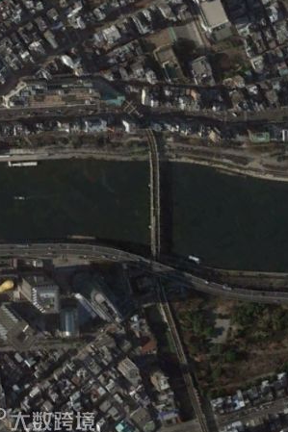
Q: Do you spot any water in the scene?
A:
Yes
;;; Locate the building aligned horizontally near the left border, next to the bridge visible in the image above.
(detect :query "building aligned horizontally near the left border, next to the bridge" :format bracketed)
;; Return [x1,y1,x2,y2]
[1,80,102,109]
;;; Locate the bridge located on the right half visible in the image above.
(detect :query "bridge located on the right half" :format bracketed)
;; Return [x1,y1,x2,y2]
[140,114,213,432]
